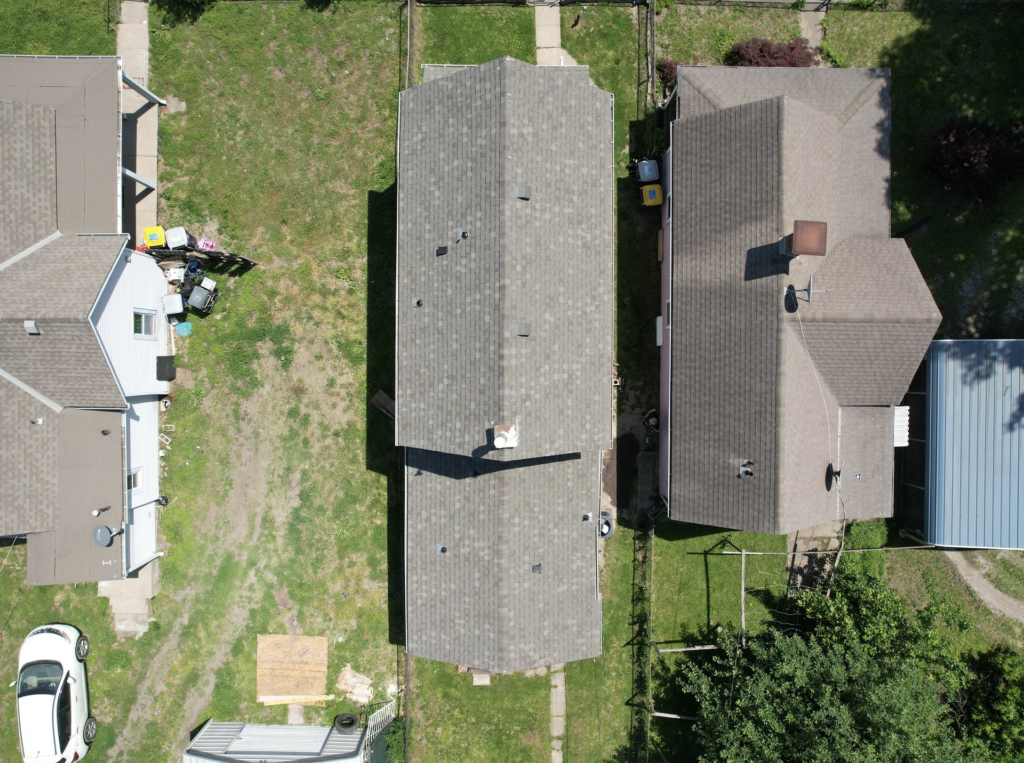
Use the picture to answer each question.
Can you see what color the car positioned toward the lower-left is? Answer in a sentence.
The color of the car positioned toward the lower-left is white.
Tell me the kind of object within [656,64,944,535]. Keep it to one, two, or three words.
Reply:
house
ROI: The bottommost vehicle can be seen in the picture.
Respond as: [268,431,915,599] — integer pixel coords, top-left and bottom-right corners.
[8,624,96,763]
